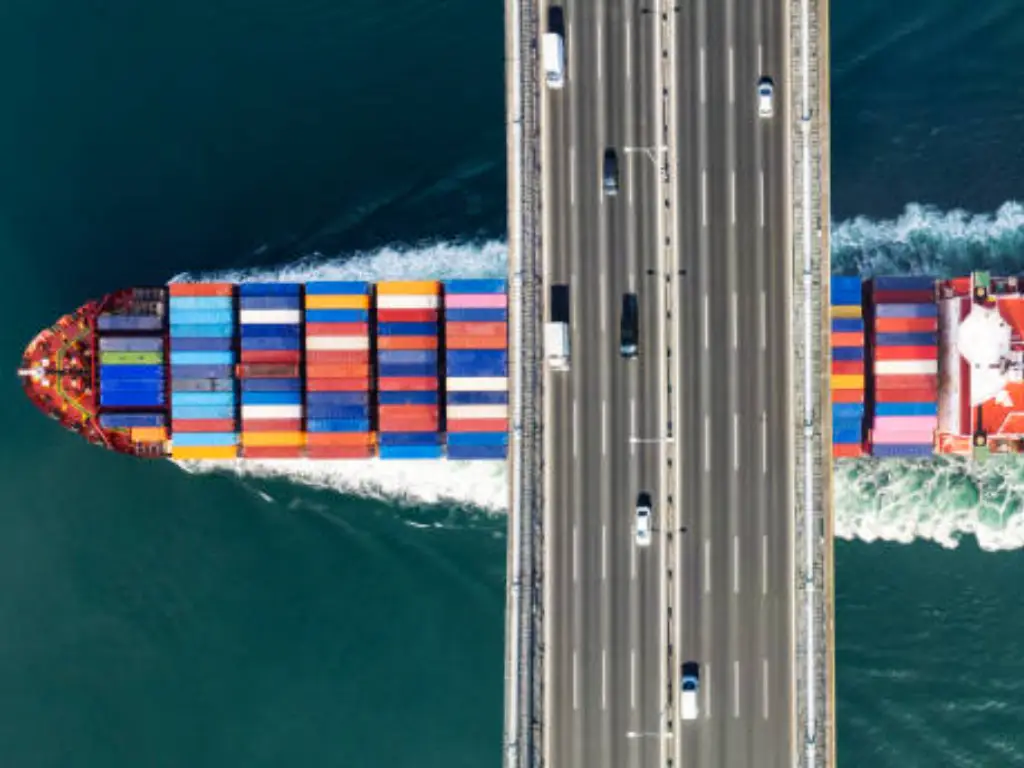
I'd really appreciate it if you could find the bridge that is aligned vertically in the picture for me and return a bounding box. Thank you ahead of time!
[503,0,832,768]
